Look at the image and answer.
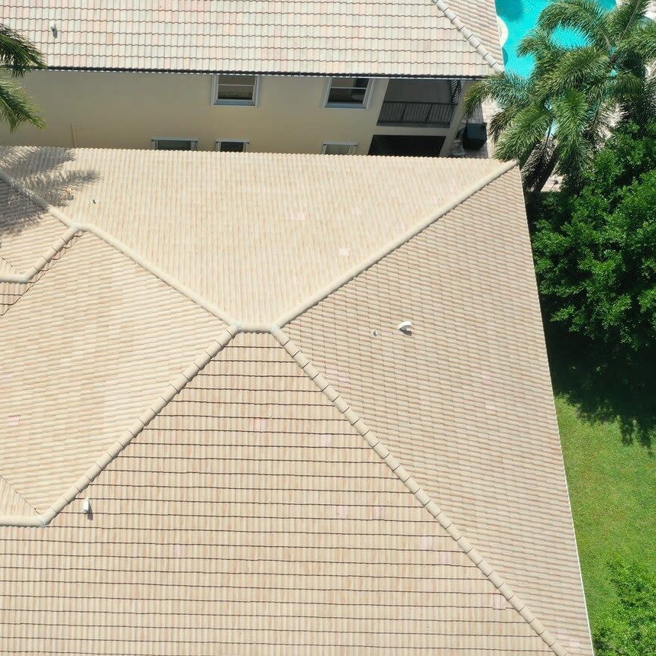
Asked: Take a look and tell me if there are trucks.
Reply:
No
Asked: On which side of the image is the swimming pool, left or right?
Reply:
right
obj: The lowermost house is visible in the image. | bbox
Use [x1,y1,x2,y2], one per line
[0,143,594,656]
